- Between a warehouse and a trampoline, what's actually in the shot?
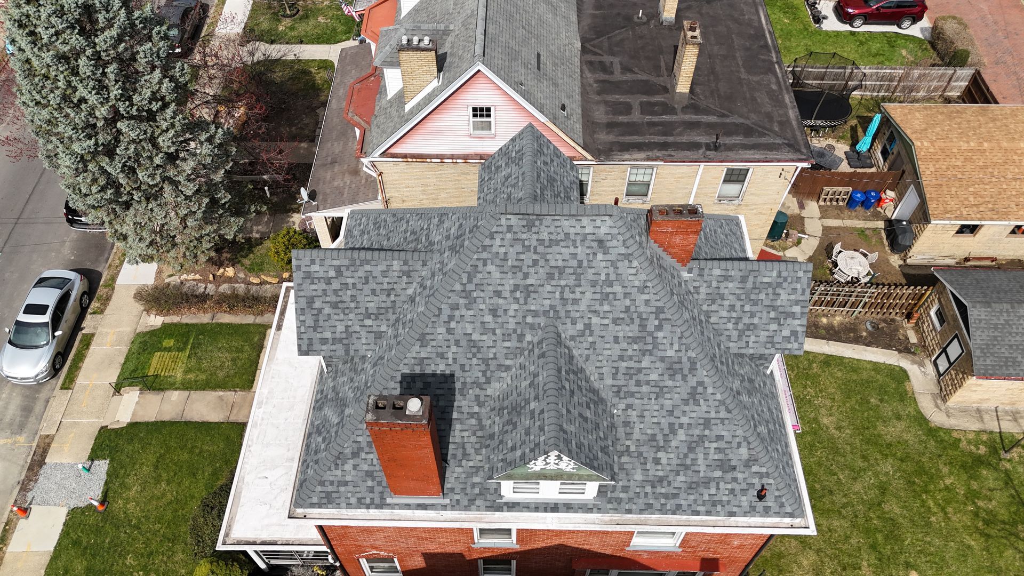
trampoline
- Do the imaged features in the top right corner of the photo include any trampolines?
Yes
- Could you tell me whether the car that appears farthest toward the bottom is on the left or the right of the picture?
left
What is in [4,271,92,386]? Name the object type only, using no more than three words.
car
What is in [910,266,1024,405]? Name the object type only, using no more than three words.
building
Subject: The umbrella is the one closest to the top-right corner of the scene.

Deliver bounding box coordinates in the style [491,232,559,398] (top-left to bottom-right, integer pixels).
[838,111,880,169]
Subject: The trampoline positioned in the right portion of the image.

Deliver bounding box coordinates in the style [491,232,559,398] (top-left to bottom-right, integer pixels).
[780,51,871,135]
